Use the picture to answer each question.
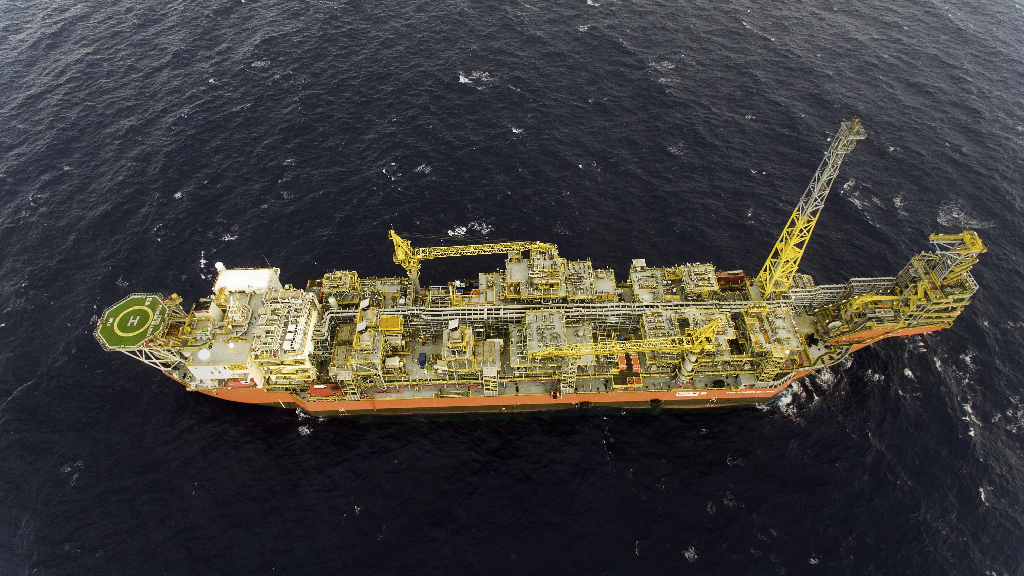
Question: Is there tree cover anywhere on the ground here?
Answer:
No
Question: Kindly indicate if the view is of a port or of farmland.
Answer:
port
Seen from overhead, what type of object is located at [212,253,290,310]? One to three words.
house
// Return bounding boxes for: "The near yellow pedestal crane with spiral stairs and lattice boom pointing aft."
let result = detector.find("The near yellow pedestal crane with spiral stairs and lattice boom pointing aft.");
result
[532,314,727,391]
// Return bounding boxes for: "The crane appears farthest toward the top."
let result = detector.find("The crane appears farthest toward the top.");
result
[385,225,556,294]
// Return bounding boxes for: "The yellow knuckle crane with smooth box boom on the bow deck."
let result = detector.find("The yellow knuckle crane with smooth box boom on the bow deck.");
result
[838,289,918,325]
